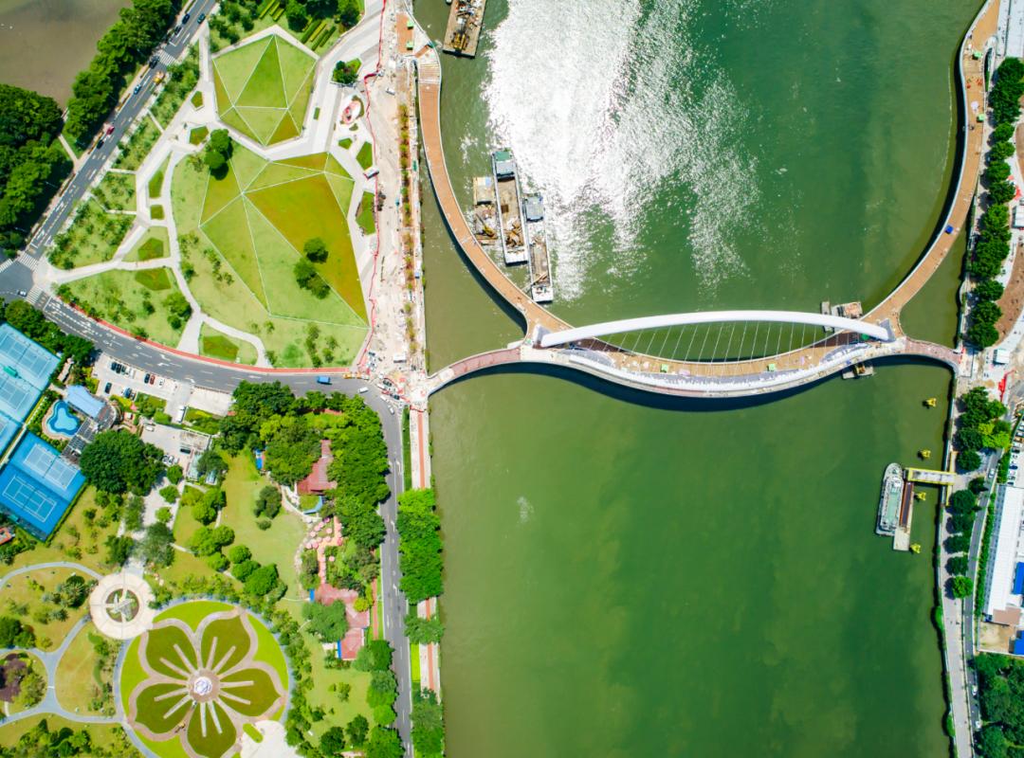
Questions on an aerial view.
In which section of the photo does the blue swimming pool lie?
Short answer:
left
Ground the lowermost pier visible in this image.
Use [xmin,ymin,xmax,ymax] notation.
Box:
[892,480,914,551]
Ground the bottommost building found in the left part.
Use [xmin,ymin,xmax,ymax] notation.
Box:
[341,627,365,661]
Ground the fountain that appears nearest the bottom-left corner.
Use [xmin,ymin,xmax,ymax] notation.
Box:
[194,678,212,695]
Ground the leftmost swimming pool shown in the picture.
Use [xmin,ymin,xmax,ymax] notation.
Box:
[42,396,85,441]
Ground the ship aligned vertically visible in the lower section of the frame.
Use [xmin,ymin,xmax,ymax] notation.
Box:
[876,463,903,536]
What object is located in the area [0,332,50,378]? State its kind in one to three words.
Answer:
tennis court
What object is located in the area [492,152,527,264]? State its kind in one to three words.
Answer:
ship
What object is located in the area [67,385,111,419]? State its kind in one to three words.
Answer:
building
